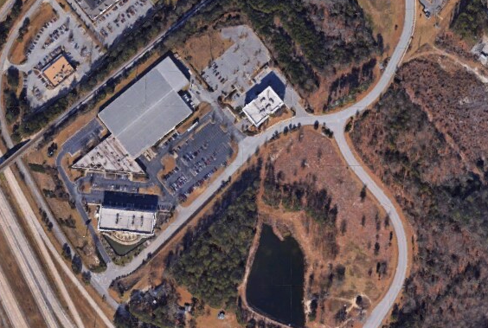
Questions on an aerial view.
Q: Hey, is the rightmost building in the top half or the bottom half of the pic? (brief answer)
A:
top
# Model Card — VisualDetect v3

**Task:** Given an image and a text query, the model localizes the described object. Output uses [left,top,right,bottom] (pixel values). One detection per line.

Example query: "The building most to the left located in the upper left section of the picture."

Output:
[41,54,75,85]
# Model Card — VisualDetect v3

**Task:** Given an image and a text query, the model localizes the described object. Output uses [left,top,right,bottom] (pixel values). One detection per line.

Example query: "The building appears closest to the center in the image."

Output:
[243,84,283,126]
